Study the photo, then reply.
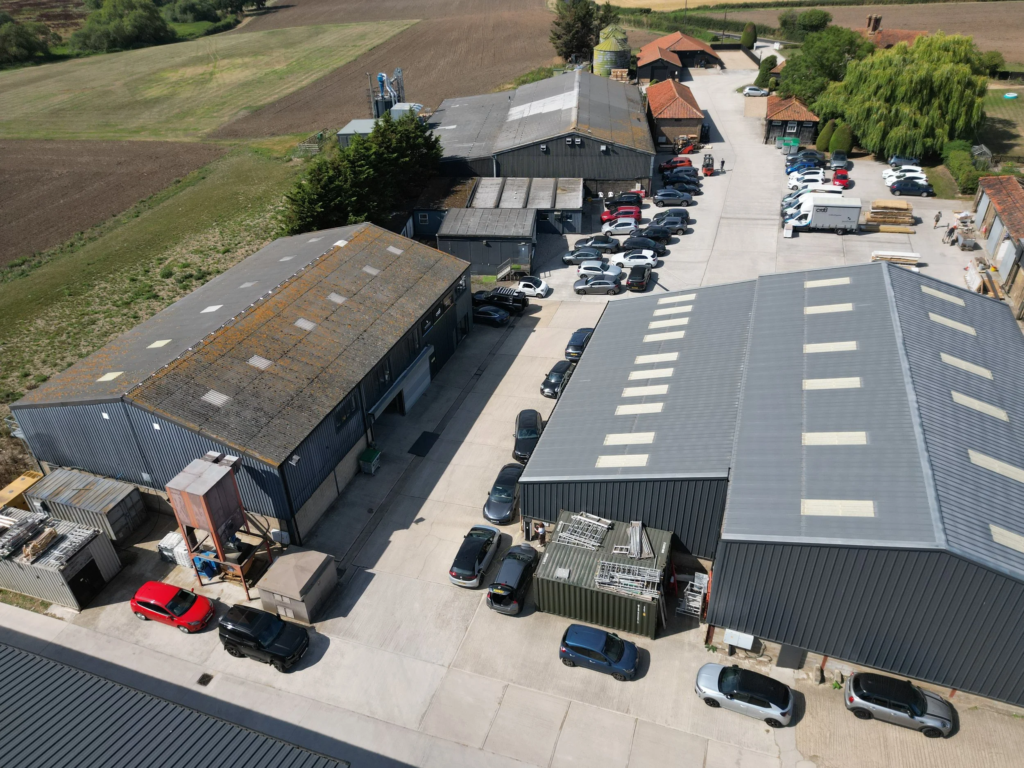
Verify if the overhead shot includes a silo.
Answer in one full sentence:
Yes, the image includes a silo.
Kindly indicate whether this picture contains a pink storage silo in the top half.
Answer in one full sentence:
No, there's no pink storage silo to be seen in the top half.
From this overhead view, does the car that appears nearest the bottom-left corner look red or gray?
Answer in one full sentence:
The color of the car that appears nearest the bottom-left corner is red.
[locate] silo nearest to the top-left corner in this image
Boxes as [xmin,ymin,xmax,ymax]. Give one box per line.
[363,56,404,117]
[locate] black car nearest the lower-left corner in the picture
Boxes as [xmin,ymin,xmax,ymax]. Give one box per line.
[210,598,313,673]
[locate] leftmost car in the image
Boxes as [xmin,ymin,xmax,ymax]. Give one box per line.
[126,578,216,634]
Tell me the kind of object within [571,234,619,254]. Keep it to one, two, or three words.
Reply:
car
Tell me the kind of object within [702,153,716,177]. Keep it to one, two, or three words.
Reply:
work vehicle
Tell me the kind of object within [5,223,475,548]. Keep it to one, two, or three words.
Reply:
shed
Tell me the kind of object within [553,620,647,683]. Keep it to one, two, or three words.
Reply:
car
